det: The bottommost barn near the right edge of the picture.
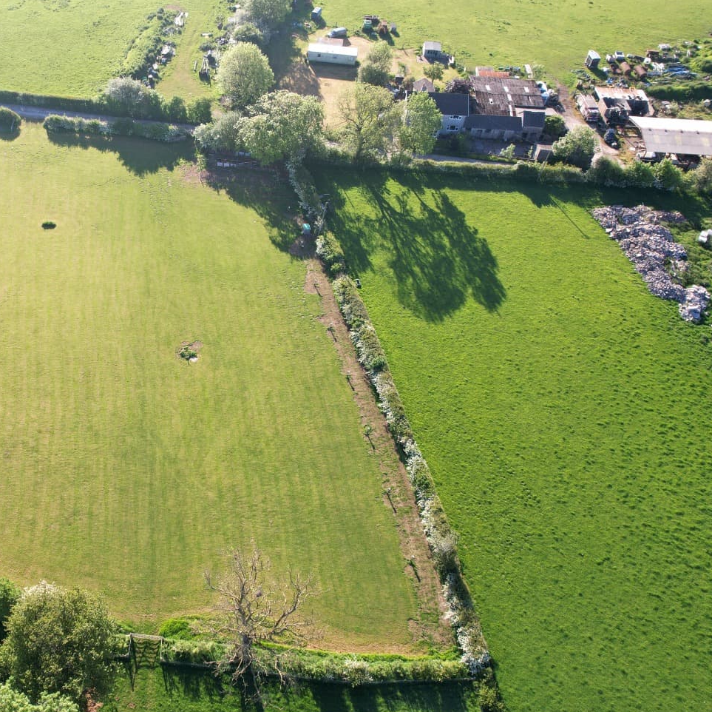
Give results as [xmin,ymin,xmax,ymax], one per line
[618,114,712,176]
